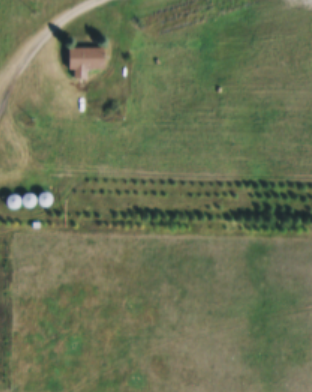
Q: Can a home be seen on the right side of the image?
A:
No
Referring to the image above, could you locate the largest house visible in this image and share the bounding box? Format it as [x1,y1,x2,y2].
[69,46,104,79]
